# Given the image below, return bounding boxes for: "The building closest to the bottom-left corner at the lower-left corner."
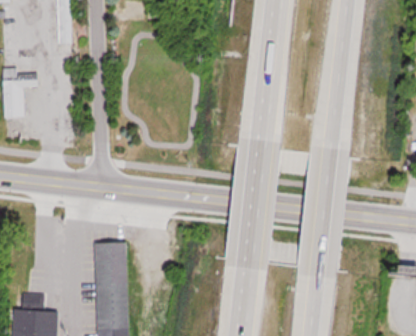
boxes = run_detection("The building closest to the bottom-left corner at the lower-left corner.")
[11,292,56,336]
